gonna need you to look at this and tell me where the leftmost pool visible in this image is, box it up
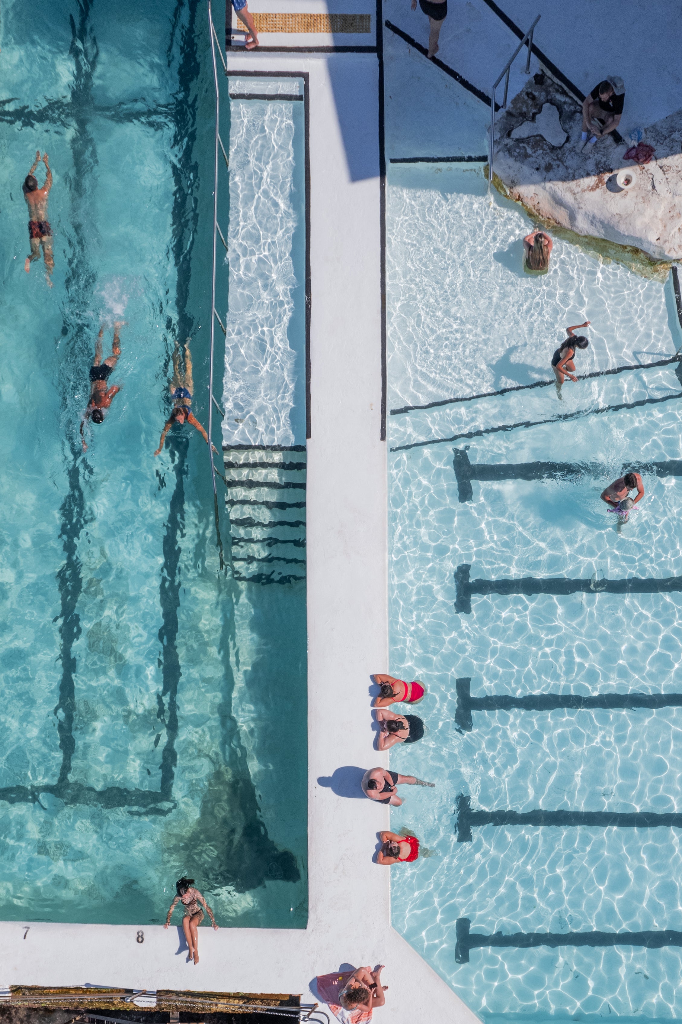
[0,0,308,929]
